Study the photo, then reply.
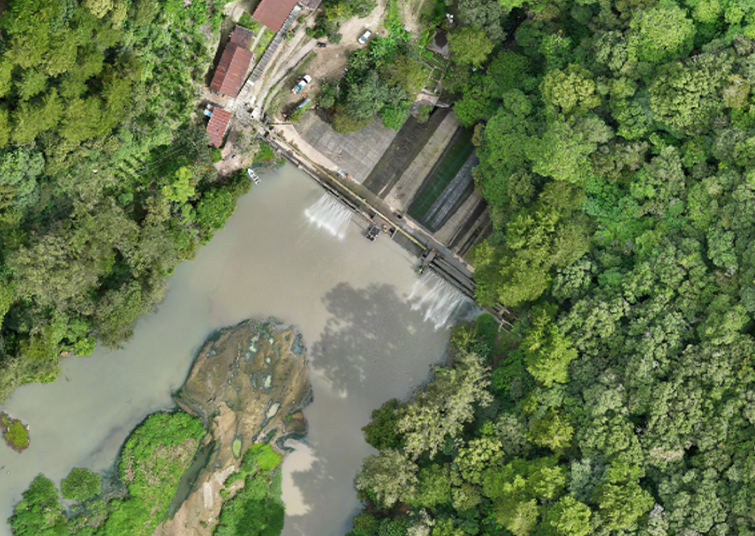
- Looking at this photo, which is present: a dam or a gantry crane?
dam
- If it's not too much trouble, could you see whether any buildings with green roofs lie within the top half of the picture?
No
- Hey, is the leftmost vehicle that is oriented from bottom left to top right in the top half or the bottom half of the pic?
top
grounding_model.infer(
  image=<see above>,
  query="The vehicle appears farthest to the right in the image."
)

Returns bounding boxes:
[358,29,372,45]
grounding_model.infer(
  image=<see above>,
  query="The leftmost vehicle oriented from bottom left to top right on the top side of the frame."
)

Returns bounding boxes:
[292,74,312,95]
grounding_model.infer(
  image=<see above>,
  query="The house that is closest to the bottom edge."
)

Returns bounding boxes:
[205,107,234,147]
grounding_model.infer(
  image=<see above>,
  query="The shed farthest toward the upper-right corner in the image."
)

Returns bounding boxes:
[427,27,449,59]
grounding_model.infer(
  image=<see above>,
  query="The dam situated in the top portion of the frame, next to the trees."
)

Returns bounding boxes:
[264,117,490,306]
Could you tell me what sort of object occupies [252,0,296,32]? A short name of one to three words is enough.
house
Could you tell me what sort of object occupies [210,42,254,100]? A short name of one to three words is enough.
house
